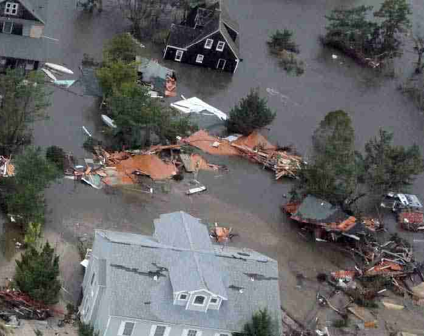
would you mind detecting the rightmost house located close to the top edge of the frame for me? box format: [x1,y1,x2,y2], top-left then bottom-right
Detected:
[163,2,240,72]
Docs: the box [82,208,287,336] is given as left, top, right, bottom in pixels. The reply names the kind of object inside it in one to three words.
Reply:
house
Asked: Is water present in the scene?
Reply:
Yes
